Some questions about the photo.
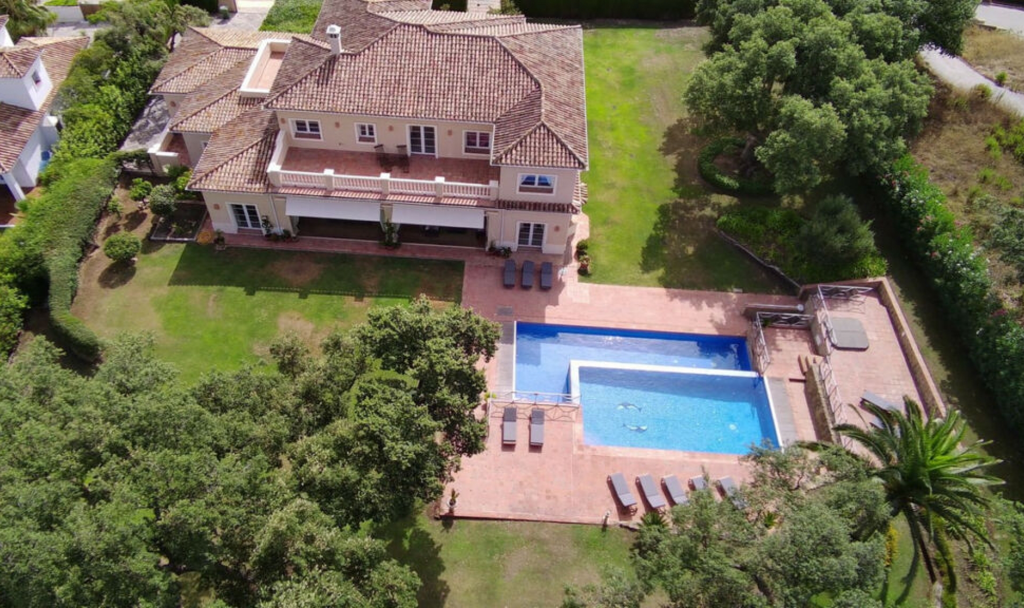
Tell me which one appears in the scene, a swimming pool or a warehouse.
swimming pool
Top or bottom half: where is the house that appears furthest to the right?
top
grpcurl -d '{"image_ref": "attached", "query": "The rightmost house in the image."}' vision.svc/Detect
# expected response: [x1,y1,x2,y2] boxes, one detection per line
[147,0,591,254]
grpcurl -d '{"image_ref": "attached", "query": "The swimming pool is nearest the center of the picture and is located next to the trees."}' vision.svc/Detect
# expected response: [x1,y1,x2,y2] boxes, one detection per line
[510,322,785,455]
